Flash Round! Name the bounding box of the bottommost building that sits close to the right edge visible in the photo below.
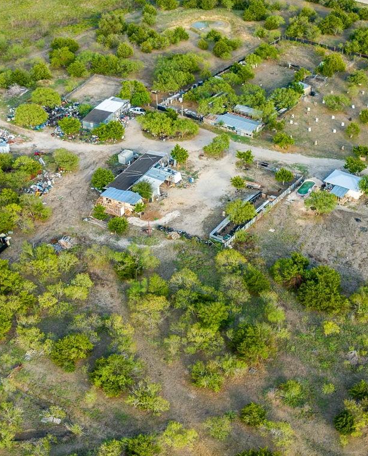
[323,170,364,205]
